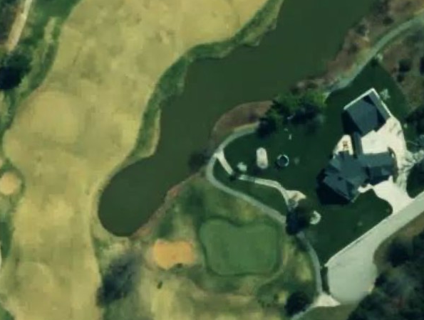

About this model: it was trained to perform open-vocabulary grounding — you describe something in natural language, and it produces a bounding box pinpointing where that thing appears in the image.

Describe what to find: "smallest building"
[343,90,391,137]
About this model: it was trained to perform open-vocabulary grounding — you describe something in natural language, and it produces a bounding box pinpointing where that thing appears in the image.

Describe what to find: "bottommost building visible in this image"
[319,130,395,204]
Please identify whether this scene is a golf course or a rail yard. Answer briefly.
golf course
